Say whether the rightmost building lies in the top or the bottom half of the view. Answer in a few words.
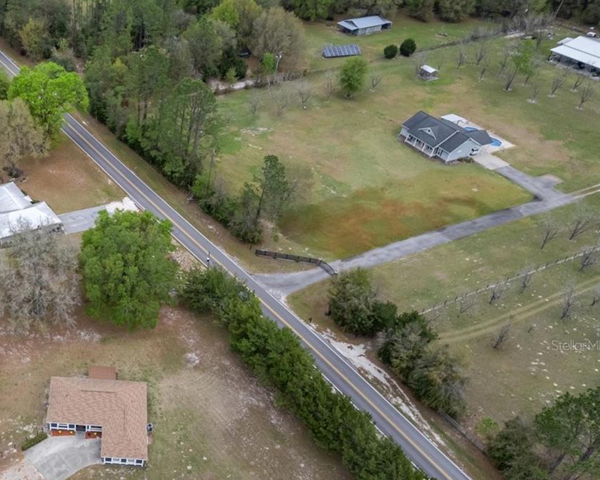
top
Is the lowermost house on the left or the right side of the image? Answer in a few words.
left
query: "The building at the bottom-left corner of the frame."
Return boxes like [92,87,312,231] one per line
[46,370,149,467]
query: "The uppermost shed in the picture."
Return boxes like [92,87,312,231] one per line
[336,15,393,36]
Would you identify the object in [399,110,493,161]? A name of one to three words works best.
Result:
house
